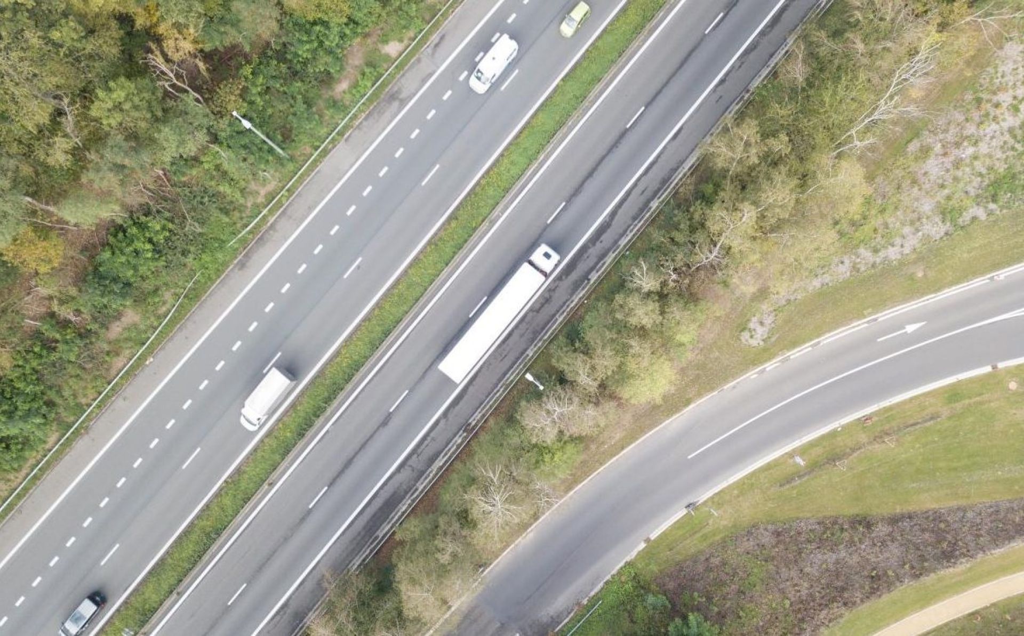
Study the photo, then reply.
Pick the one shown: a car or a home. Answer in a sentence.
Looking from above, you can make out a car.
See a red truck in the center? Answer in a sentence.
No, there's no red truck to be seen in the center.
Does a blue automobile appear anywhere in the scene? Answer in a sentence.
No, the photo shows no blue automobile.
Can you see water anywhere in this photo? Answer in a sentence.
No, no water is visible.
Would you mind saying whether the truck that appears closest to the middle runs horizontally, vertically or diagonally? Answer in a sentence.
In this picture, the truck that appears closest to the middle is oriented diagonally.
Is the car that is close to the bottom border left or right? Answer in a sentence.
The car that is close to the bottom border sits on the left side.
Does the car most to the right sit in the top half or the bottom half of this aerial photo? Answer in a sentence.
Seen from above, the car most to the right lies in the top half of the view.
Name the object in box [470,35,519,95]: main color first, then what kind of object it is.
white van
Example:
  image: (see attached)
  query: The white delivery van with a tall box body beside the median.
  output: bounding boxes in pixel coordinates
[242,370,294,426]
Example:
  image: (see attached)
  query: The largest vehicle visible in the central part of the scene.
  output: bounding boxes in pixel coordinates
[438,243,561,383]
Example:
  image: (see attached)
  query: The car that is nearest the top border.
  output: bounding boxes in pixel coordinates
[559,1,592,39]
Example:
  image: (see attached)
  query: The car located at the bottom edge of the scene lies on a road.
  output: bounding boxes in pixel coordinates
[64,589,108,636]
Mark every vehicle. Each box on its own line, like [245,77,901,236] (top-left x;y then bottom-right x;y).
[438,243,561,383]
[242,370,294,426]
[559,1,592,39]
[470,35,519,95]
[64,589,108,636]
